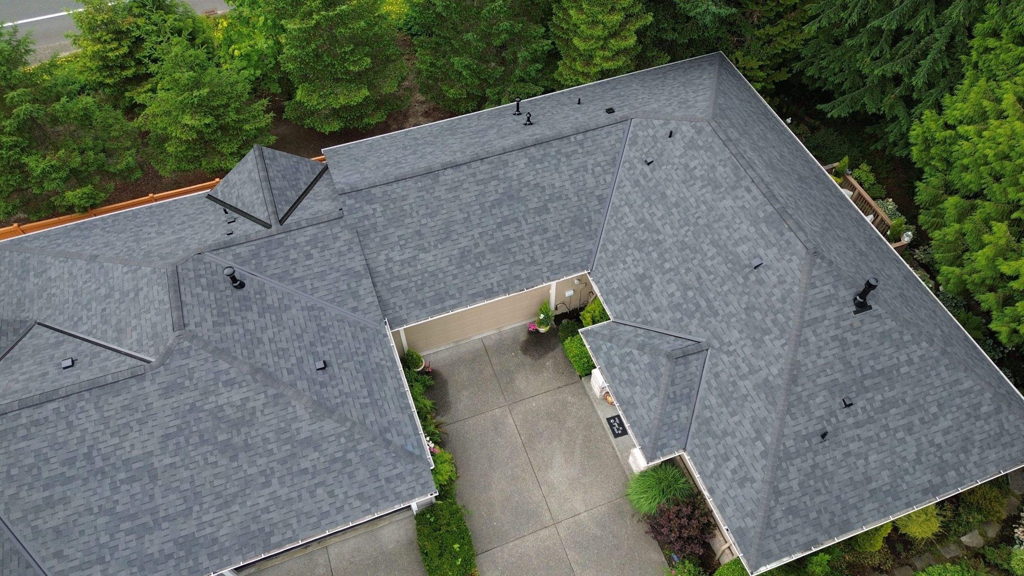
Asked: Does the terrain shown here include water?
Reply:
No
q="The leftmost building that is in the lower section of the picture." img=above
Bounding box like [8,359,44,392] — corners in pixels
[0,143,441,576]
